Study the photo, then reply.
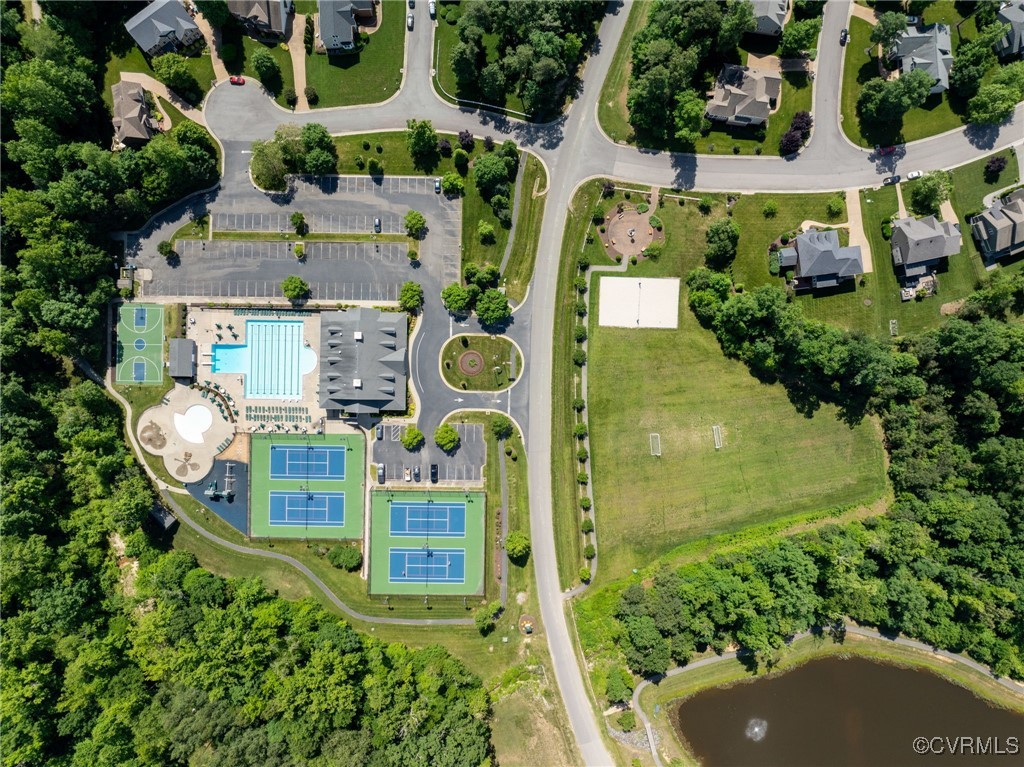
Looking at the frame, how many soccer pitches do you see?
1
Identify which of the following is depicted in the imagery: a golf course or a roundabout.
roundabout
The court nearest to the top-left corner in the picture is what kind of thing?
basketball court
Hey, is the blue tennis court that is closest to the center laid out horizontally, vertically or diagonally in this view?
horizontally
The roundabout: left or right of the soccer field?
left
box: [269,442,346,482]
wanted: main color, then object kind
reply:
blue tennis court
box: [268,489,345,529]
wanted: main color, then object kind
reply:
blue tennis court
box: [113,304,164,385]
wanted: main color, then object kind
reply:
green basketball court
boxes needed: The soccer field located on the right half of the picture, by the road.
[586,312,889,586]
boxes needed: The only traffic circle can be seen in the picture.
[410,287,533,454]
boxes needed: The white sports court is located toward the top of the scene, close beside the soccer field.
[598,276,680,329]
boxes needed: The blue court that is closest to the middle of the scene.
[389,500,466,540]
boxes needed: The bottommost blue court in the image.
[389,546,465,587]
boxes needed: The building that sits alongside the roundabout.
[319,304,407,420]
